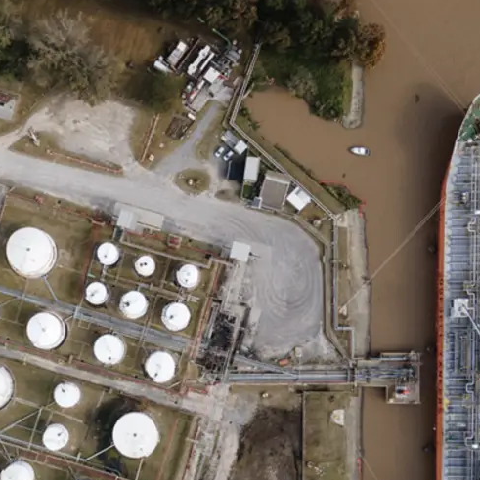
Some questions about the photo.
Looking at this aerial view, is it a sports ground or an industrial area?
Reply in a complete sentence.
What you see here is an industrial area.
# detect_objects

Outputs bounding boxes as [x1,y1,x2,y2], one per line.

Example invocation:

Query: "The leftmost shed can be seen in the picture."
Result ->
[114,202,165,234]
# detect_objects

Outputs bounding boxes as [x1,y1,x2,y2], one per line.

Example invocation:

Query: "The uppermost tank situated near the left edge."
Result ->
[7,229,59,284]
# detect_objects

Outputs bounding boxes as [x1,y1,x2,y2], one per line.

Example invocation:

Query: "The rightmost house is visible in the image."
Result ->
[287,187,311,213]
